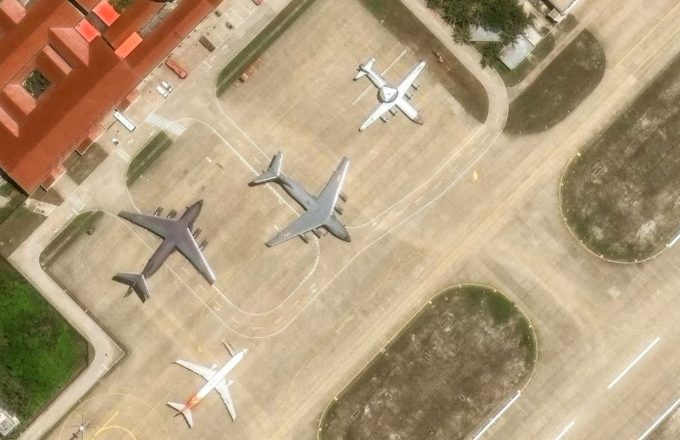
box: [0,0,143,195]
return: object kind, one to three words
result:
building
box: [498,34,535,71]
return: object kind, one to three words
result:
house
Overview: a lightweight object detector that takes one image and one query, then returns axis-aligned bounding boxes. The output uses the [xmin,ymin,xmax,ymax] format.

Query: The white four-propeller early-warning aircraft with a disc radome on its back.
[357,61,426,133]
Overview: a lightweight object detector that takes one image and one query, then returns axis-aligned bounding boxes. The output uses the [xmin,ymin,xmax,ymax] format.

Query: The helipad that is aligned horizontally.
[59,394,169,440]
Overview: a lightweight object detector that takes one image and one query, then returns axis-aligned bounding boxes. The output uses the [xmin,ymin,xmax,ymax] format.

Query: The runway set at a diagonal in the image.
[469,232,680,440]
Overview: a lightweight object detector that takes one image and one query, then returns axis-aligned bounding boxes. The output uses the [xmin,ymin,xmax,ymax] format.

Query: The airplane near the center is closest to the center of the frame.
[251,151,351,247]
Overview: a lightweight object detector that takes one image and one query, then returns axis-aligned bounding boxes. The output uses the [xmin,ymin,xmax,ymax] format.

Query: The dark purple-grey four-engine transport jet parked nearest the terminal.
[116,201,214,301]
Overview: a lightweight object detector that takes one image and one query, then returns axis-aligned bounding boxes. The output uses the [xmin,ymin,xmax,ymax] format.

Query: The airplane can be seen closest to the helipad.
[170,349,246,425]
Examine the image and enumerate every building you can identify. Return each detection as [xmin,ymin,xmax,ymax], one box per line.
[498,34,535,71]
[469,26,503,42]
[548,0,577,16]
[0,0,143,195]
[0,407,22,437]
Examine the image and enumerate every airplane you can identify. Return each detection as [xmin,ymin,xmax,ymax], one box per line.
[170,349,246,425]
[357,61,426,133]
[116,201,214,301]
[251,151,351,247]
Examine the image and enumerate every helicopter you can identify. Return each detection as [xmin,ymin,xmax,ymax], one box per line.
[70,415,93,440]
